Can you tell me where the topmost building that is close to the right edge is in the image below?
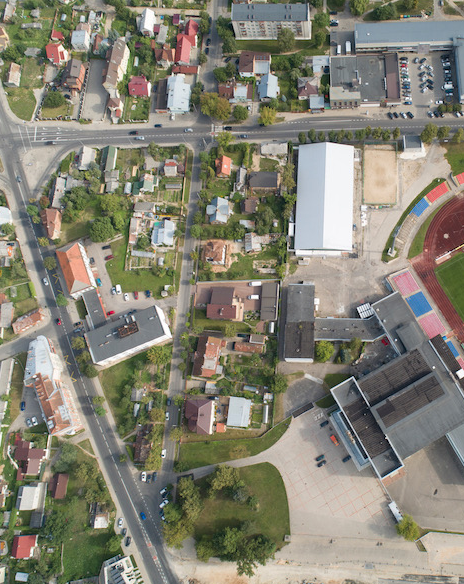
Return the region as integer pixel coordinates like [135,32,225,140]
[355,21,464,53]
